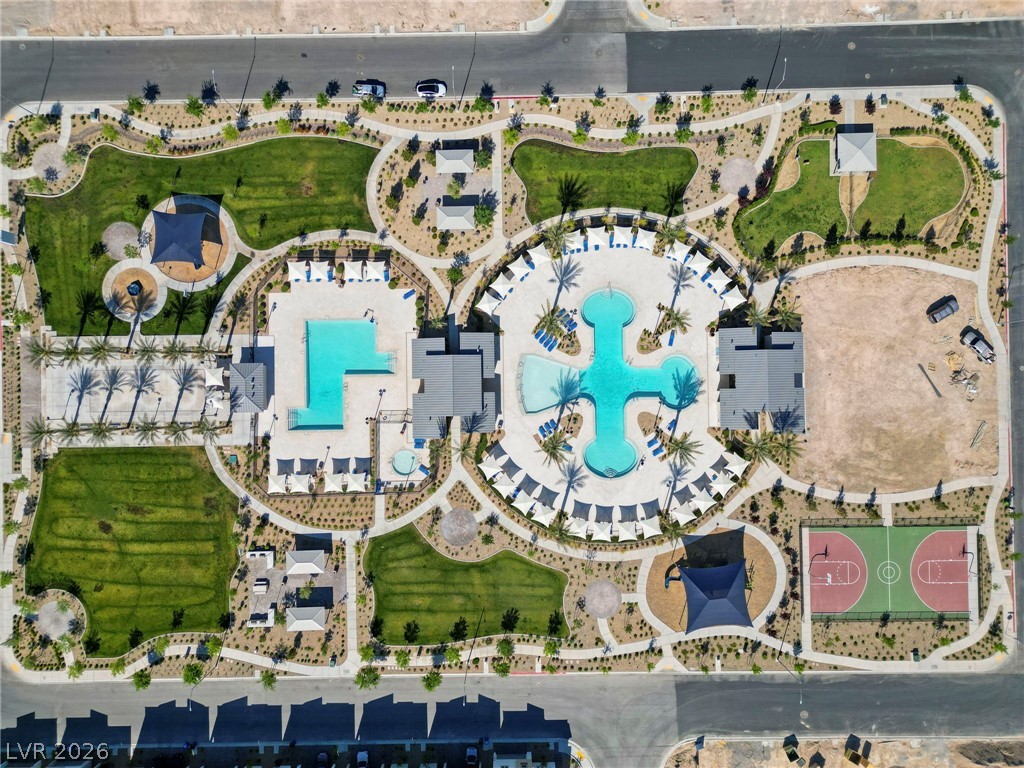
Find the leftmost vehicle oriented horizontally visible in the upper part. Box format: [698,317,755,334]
[350,81,386,98]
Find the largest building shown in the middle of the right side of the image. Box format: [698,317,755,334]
[714,328,806,434]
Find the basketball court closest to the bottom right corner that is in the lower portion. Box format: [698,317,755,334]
[810,527,968,620]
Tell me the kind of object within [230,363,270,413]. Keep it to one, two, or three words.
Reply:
building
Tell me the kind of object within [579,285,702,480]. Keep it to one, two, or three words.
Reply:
swimming pool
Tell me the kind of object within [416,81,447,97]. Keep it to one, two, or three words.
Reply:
car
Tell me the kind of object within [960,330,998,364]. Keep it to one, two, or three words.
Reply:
truck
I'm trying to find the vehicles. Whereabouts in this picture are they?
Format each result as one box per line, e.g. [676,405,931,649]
[416,81,447,97]
[960,330,998,364]
[464,744,478,768]
[350,81,386,98]
[354,750,369,768]
[926,298,960,321]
